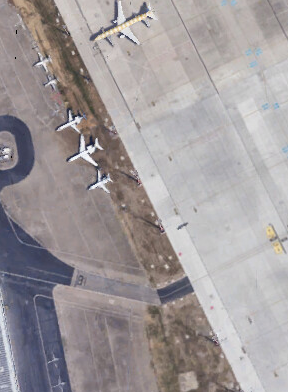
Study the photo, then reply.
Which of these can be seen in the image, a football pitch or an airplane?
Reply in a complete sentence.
There is an airplane in the scene.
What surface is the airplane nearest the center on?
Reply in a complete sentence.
The airplane nearest the center rests on the grass.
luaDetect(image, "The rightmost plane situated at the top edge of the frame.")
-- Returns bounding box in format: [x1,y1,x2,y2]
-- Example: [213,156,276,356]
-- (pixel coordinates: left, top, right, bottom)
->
[95,1,156,43]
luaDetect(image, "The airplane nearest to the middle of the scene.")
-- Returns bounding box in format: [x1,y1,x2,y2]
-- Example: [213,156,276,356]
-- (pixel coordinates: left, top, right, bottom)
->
[90,171,115,194]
